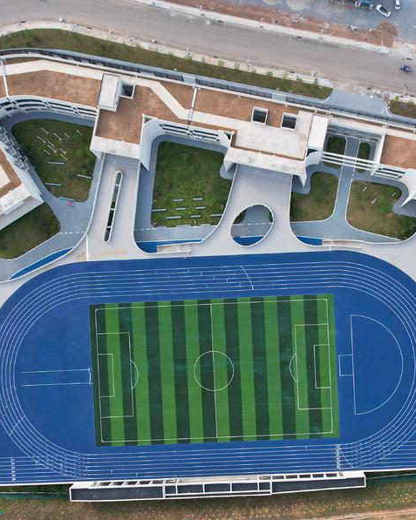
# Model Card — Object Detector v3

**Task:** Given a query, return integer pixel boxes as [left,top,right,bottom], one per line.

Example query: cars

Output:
[376,3,391,16]
[395,0,401,9]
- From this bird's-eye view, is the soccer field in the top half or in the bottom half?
bottom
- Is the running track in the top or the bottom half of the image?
bottom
